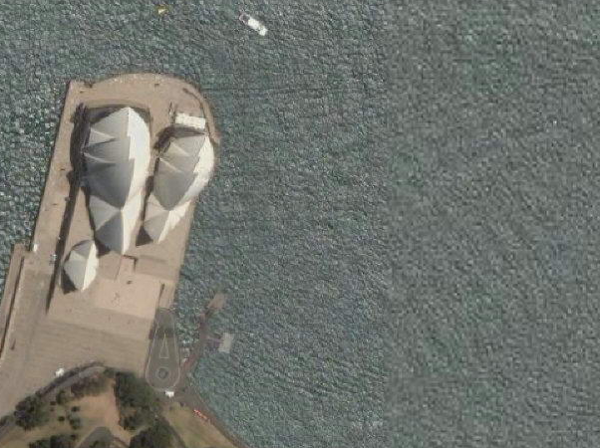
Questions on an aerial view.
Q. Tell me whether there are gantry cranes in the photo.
No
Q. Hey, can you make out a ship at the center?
No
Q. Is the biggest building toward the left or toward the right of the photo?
left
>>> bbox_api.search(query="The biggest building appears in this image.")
[46,101,216,341]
